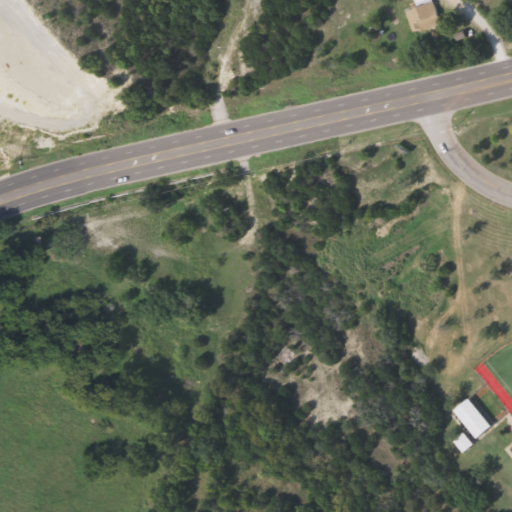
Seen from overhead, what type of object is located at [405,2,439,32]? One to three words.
house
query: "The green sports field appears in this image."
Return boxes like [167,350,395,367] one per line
[476,342,512,398]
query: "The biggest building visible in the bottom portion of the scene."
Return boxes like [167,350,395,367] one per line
[453,400,491,440]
